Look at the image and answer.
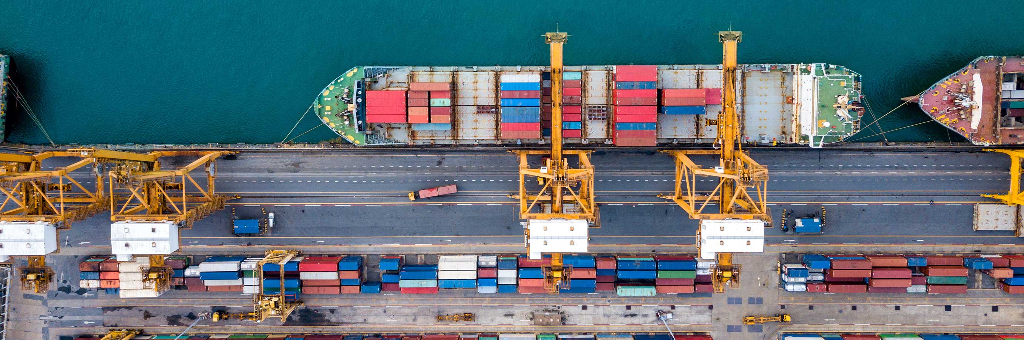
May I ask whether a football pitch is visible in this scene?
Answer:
No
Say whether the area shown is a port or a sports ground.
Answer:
port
